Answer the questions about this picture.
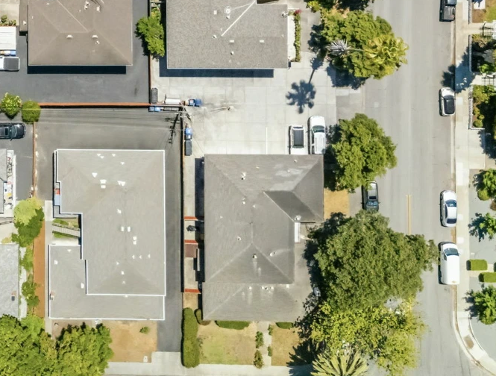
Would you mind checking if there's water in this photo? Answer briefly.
No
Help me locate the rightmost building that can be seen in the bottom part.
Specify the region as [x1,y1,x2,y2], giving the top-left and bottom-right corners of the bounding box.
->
[201,151,324,321]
